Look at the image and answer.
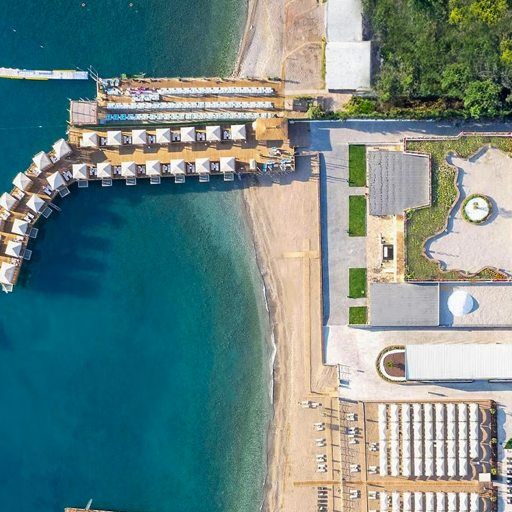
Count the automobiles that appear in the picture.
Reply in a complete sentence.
There are no automobiles in this view.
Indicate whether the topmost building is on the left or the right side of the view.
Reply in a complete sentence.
The topmost building is on the right side of the image.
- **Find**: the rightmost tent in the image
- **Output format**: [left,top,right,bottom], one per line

[448,291,475,316]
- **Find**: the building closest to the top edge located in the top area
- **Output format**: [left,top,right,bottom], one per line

[326,0,362,42]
